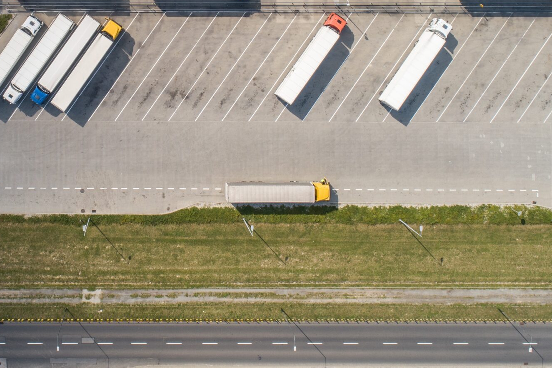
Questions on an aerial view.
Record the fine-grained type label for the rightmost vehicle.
truck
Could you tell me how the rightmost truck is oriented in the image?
at an angle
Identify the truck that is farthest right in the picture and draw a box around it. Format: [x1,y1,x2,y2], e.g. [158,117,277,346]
[379,17,453,111]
